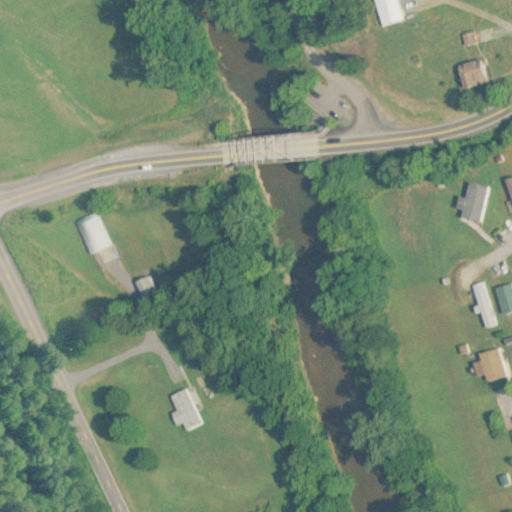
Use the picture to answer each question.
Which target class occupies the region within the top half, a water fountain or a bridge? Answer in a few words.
bridge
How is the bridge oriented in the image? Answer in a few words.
from side to side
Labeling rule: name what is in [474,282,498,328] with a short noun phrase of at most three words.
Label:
house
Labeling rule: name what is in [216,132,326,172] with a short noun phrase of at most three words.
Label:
bridge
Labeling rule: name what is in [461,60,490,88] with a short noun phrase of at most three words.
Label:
house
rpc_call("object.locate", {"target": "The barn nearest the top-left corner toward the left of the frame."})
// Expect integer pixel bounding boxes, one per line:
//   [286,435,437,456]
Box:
[78,213,112,256]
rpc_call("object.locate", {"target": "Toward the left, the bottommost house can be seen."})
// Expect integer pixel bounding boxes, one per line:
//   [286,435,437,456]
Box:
[172,388,204,432]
